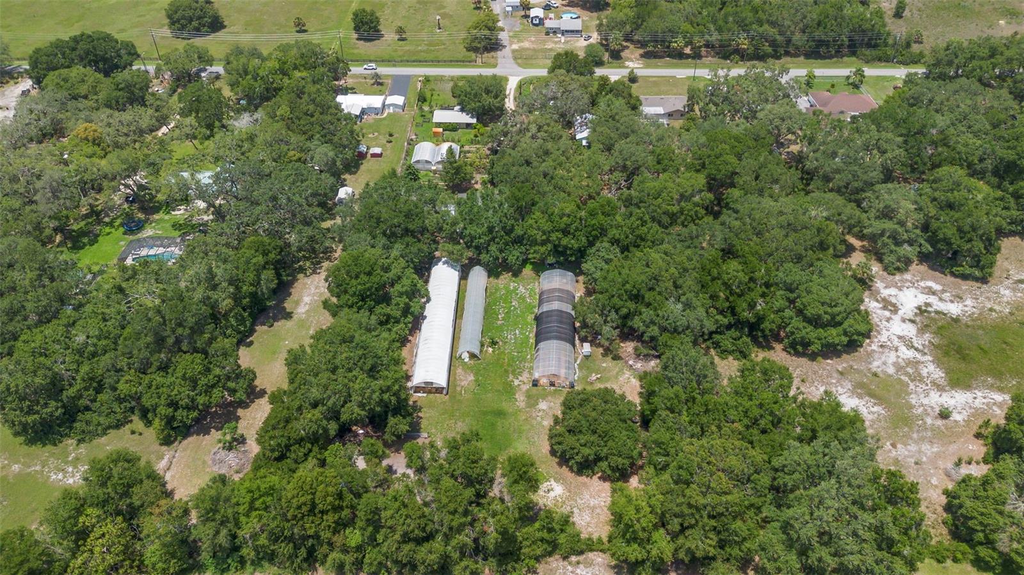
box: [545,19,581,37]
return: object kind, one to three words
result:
house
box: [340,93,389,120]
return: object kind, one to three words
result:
house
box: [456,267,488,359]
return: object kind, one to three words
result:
greenhouse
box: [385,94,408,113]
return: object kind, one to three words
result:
building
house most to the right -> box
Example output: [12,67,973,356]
[797,81,877,123]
